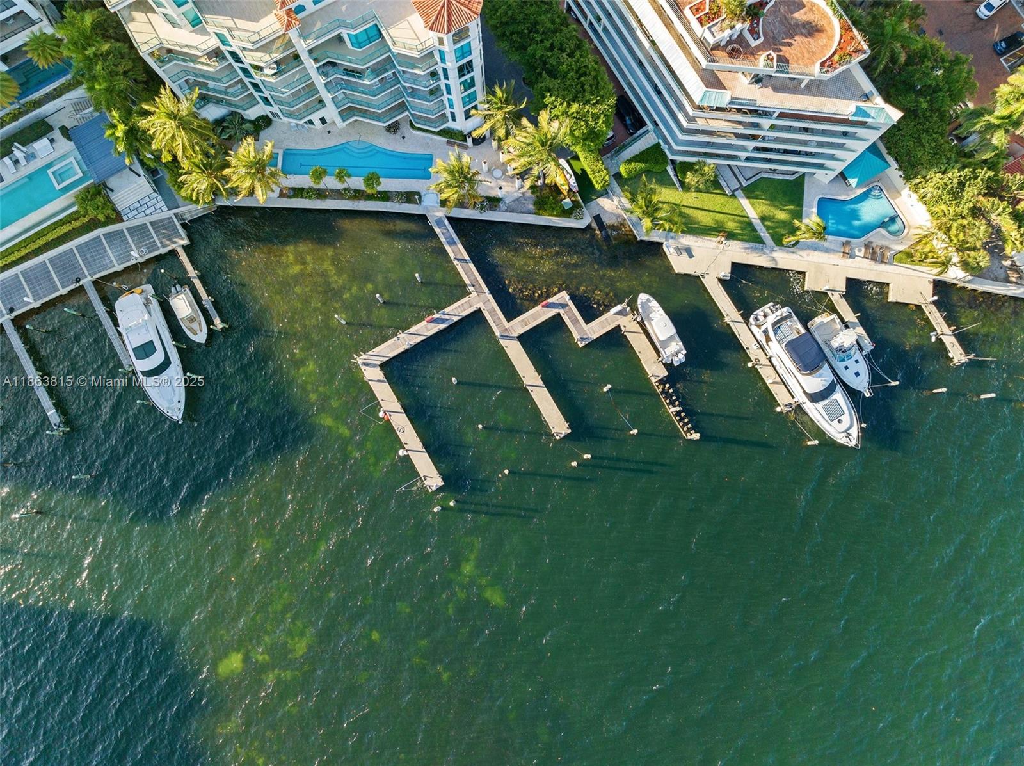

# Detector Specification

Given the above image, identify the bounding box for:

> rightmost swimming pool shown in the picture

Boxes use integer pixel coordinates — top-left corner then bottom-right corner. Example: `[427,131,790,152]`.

[814,180,908,241]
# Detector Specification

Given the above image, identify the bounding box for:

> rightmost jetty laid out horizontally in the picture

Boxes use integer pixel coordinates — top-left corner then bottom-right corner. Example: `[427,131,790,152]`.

[662,243,934,307]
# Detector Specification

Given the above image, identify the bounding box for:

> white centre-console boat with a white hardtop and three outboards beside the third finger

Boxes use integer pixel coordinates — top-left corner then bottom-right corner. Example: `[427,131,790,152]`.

[637,294,682,368]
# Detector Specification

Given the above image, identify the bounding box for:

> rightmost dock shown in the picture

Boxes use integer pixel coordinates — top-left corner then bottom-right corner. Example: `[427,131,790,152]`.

[920,305,967,365]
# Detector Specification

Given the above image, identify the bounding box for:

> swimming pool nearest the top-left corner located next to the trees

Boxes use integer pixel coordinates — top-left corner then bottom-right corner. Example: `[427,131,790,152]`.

[0,54,73,109]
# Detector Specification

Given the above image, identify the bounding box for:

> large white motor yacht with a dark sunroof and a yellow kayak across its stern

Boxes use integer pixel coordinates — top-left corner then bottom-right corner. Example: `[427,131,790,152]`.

[114,286,189,426]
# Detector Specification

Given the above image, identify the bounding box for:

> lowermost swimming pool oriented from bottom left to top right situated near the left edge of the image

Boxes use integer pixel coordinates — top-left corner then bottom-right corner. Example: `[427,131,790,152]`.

[0,150,99,254]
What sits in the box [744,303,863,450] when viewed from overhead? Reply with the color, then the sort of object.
white boat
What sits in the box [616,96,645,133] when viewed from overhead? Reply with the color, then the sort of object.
black car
